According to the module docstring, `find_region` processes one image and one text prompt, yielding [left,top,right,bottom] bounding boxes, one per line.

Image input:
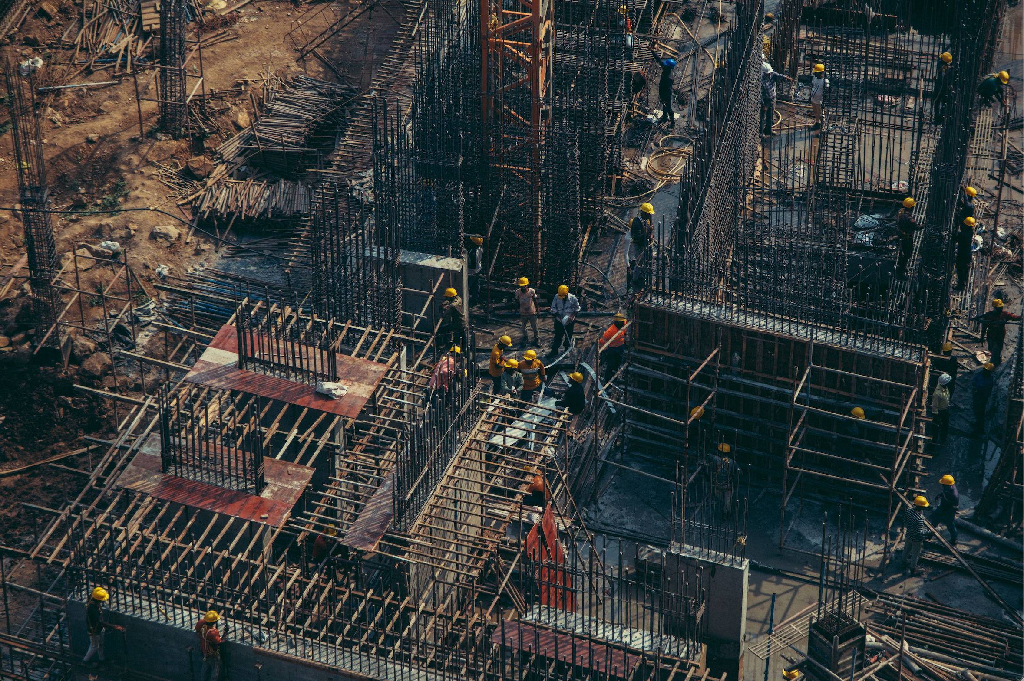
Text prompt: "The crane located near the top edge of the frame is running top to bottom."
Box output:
[482,0,561,264]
